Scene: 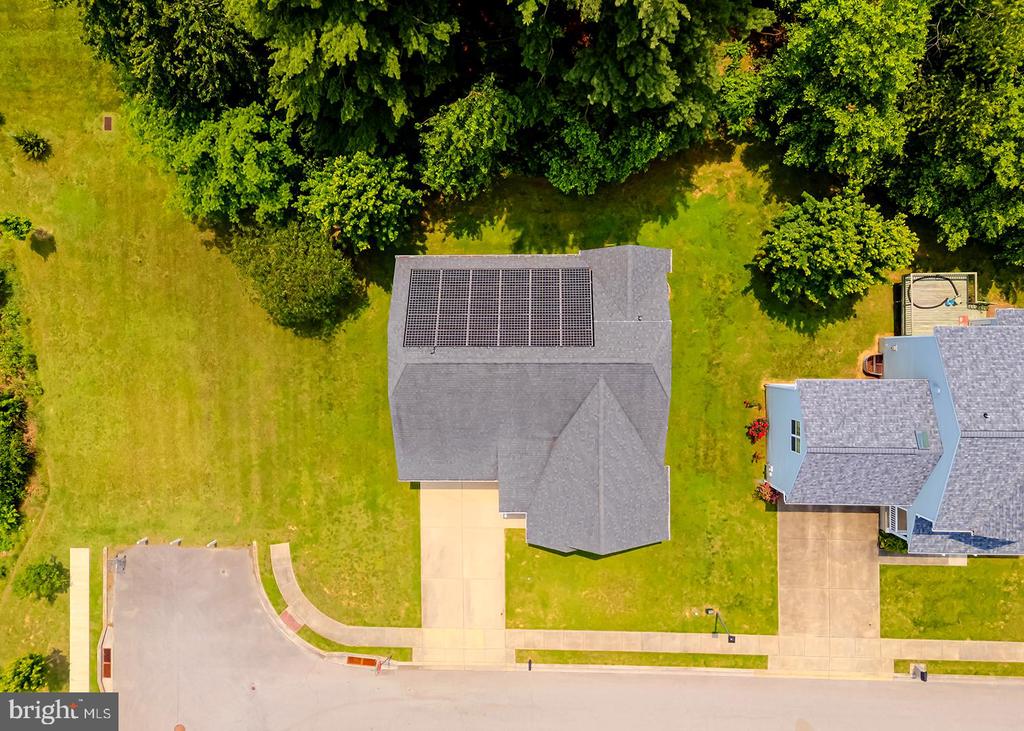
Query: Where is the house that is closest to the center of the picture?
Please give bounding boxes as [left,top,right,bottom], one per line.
[389,244,672,554]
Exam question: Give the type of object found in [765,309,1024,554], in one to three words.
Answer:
house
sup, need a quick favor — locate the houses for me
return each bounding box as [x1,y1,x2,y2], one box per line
[765,309,1024,554]
[389,244,672,554]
